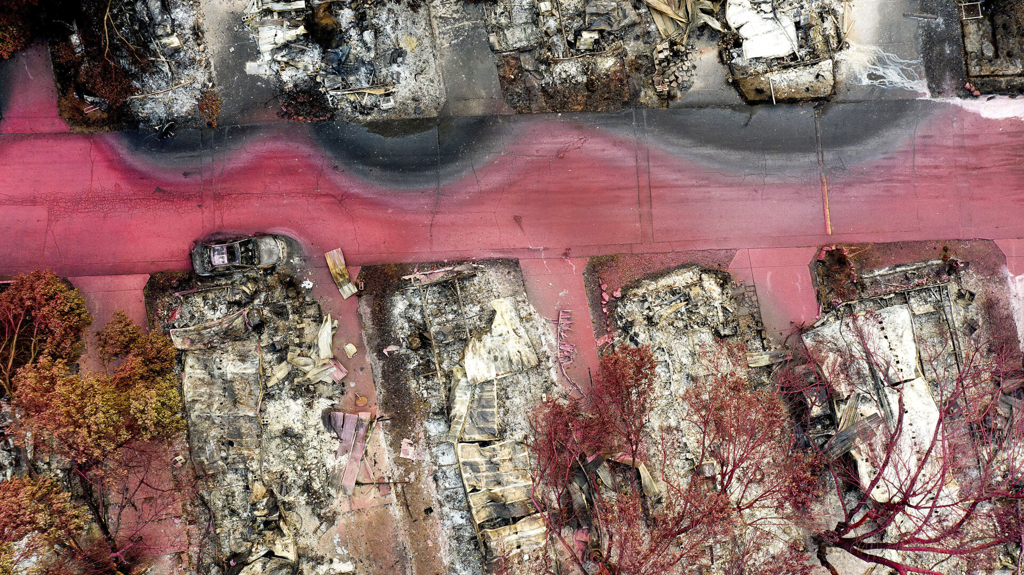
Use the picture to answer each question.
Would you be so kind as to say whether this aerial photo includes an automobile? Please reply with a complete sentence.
Yes, an automobile can be made out from above.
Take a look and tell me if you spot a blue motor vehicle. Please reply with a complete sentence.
No, I find no blue motor vehicle anywhere in the image.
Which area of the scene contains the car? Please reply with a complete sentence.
The car is located in the left region of the scene.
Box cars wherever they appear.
[189,233,290,276]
